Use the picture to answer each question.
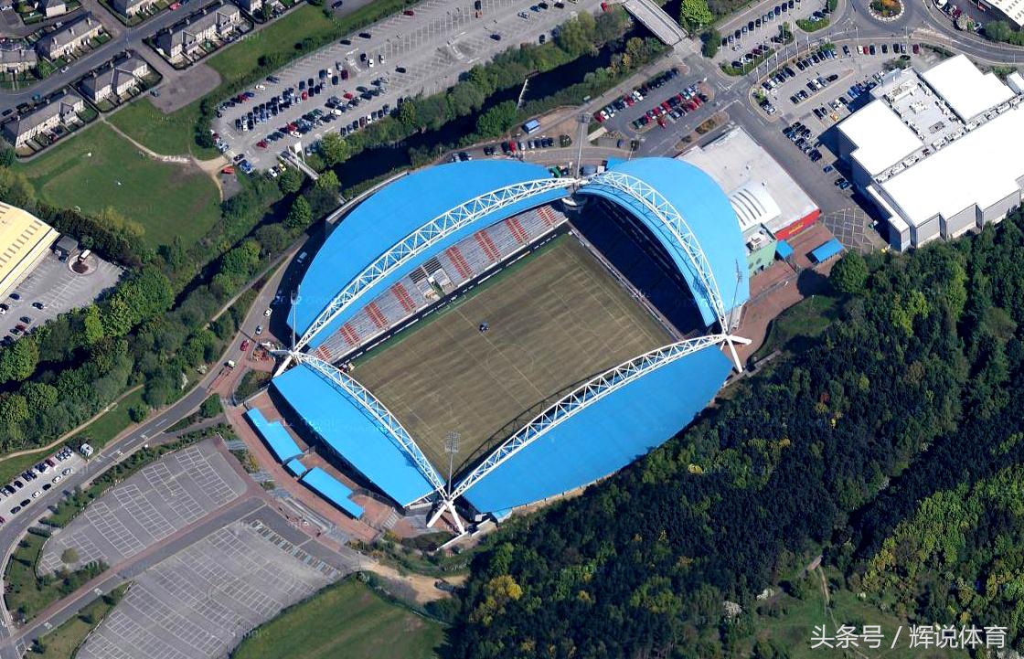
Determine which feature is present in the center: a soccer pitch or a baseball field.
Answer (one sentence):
Looking in the center, you will find a soccer pitch.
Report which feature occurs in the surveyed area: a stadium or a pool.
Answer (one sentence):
Looking from above, you can make out a stadium.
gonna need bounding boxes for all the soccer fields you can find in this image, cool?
[327,224,688,499]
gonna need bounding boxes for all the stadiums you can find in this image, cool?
[271,157,749,536]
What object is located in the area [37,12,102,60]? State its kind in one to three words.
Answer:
house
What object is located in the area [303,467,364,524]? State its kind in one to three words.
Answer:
building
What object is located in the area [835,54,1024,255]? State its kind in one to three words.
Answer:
warehouse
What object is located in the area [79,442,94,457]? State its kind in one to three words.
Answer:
camper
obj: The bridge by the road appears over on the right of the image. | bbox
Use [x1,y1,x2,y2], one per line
[621,0,688,46]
